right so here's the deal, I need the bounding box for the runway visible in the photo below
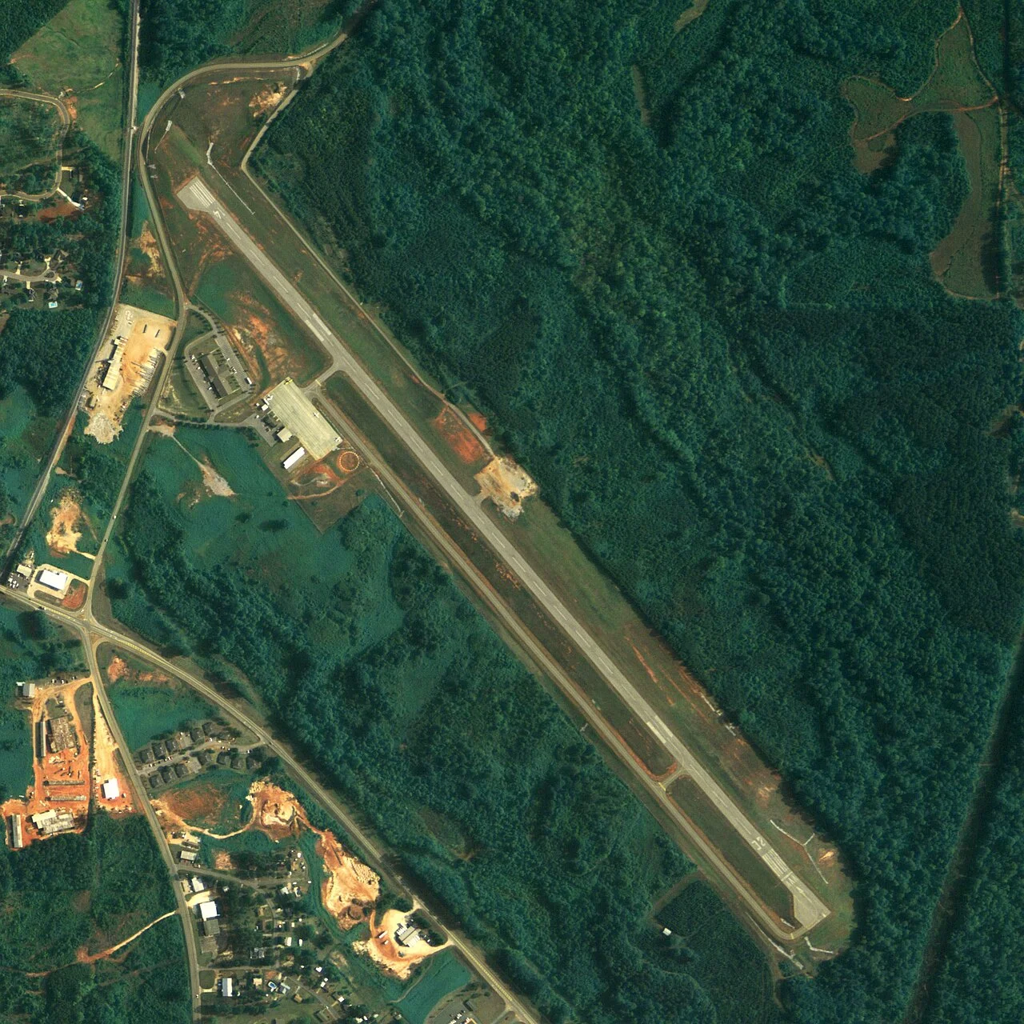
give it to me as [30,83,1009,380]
[177,177,831,929]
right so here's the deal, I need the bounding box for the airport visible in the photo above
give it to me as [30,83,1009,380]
[177,177,831,938]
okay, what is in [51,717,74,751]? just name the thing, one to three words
building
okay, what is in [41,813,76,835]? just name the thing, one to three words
building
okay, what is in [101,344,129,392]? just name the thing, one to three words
shed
